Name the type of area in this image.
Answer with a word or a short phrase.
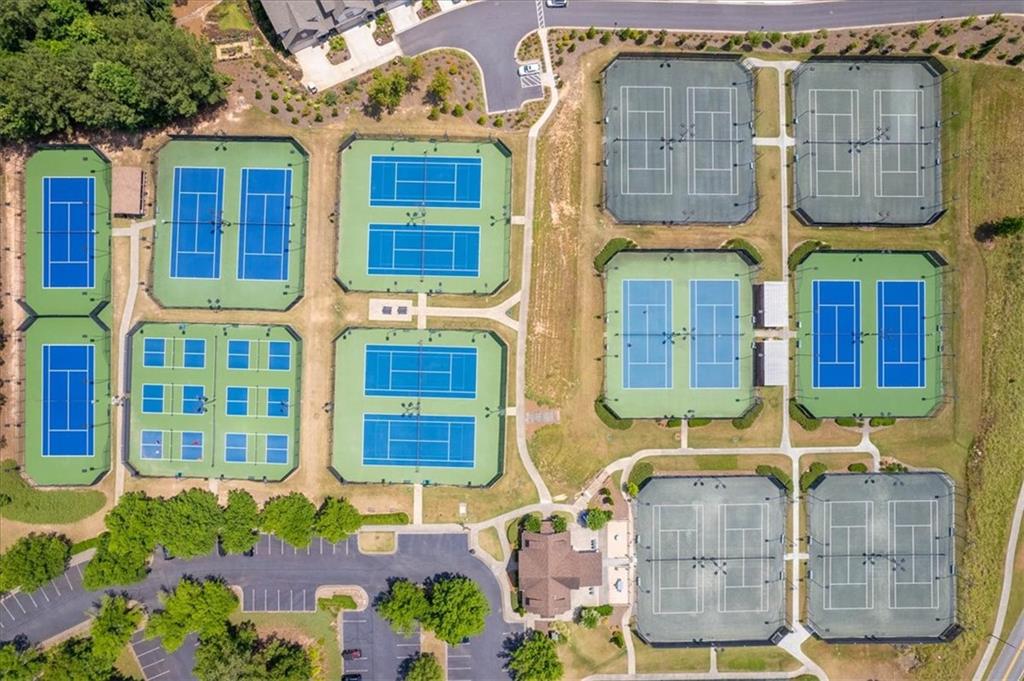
sports ground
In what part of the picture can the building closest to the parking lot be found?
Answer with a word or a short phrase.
bottom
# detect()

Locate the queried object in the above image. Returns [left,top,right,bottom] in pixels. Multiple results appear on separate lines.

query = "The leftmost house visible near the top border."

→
[262,0,339,51]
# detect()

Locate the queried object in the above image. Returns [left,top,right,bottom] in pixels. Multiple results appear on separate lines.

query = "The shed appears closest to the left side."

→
[111,166,147,215]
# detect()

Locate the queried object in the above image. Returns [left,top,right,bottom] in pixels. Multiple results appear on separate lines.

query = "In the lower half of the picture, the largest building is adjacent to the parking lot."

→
[518,525,604,625]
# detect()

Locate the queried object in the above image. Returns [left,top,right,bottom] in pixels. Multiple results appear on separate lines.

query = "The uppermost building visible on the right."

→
[753,281,789,327]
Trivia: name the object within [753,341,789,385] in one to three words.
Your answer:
building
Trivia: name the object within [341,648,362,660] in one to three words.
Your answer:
vehicle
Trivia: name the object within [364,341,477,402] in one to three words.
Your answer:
tennis court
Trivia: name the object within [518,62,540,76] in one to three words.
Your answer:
car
